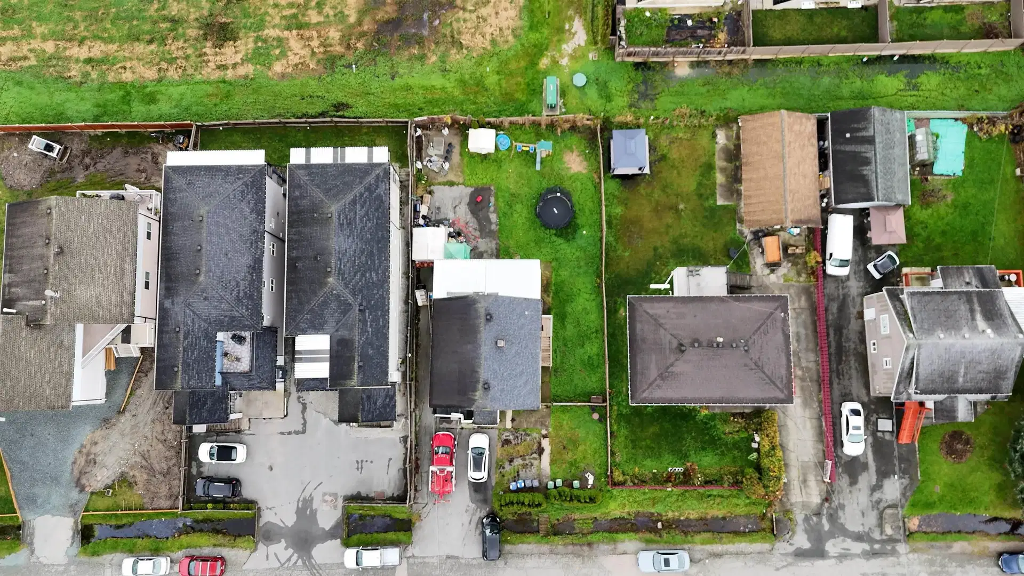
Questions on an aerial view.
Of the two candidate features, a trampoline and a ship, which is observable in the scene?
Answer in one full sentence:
I can see a trampoline in this picture.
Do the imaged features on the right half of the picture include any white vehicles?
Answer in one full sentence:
Yes, there is a white vehicle on the right half of the picture.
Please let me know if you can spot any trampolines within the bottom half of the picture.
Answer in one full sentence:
No, within the bottom half of the picture there is no trampoline.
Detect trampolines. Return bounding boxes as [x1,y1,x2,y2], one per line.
[536,189,575,230]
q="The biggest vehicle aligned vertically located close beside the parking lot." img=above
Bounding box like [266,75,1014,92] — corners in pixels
[429,430,456,506]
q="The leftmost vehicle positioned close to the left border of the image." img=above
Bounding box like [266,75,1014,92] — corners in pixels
[23,132,74,167]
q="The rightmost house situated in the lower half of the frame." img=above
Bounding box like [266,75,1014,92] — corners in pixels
[863,266,1024,443]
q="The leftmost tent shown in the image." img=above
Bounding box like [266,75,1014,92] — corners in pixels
[469,128,496,156]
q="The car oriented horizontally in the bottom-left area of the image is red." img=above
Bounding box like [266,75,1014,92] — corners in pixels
[179,553,229,576]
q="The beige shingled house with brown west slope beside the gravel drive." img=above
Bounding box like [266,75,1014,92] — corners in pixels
[0,193,160,410]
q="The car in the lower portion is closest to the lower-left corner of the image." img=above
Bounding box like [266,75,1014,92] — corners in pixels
[122,553,173,576]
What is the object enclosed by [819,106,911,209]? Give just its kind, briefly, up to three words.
building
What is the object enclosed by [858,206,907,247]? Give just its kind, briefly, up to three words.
gazebo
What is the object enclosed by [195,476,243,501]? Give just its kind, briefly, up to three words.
car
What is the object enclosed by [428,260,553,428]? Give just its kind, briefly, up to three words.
house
